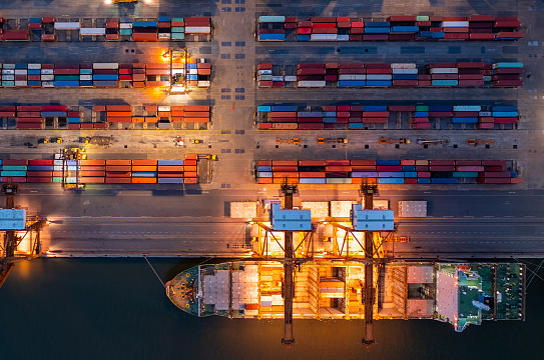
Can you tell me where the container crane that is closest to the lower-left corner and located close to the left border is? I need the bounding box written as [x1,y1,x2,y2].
[0,176,49,297]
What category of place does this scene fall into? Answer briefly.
port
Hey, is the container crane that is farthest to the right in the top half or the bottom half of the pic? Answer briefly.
bottom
